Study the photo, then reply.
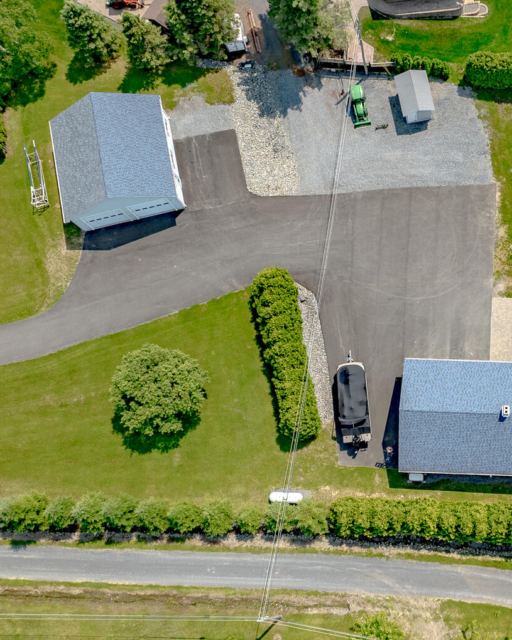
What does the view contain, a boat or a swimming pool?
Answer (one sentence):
The image shows a boat.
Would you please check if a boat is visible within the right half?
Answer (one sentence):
Yes, a boat can be seen within the right half.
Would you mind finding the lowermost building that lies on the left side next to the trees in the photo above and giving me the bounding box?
[48,92,183,232]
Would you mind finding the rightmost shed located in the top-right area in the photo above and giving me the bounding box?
[394,65,434,128]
